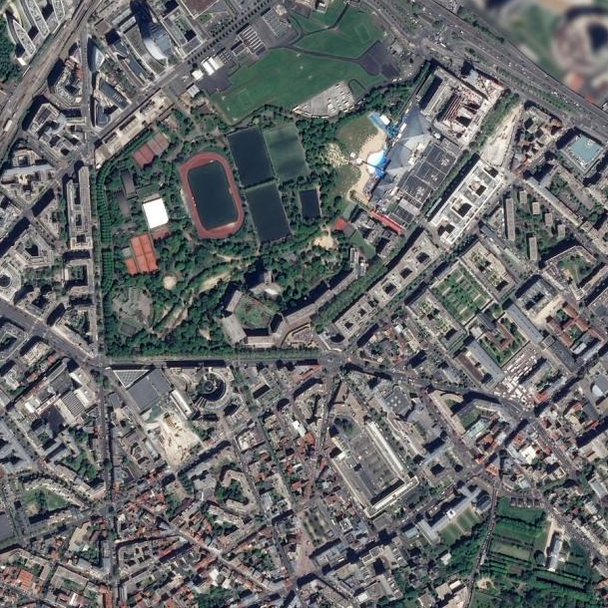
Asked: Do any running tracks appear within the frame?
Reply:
Yes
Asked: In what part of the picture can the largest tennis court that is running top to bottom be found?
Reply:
left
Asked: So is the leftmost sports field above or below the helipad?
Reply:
below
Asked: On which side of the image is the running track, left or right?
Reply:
left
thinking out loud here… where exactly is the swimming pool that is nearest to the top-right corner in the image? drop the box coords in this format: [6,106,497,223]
[368,110,400,141]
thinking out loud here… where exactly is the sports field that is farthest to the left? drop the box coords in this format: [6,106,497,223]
[188,161,237,229]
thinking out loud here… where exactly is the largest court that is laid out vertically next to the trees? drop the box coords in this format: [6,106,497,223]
[132,233,158,275]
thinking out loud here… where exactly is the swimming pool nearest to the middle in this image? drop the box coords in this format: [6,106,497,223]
[365,147,387,179]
